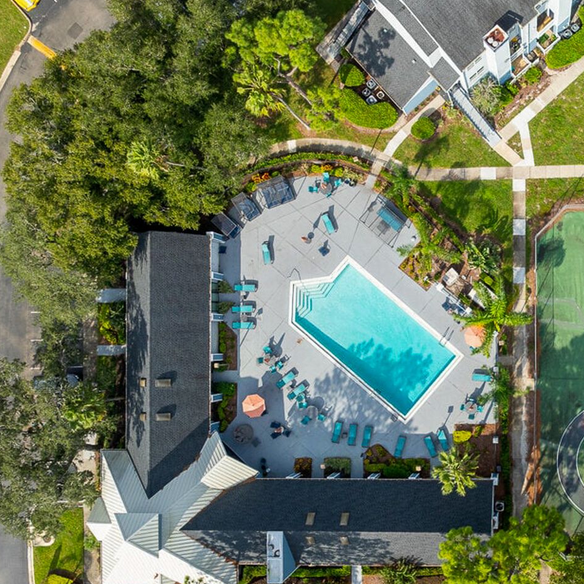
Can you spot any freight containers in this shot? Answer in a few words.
No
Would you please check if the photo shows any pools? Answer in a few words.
Yes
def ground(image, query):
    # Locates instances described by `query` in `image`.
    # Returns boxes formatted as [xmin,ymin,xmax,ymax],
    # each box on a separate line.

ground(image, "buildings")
[346,0,584,115]
[87,230,494,584]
